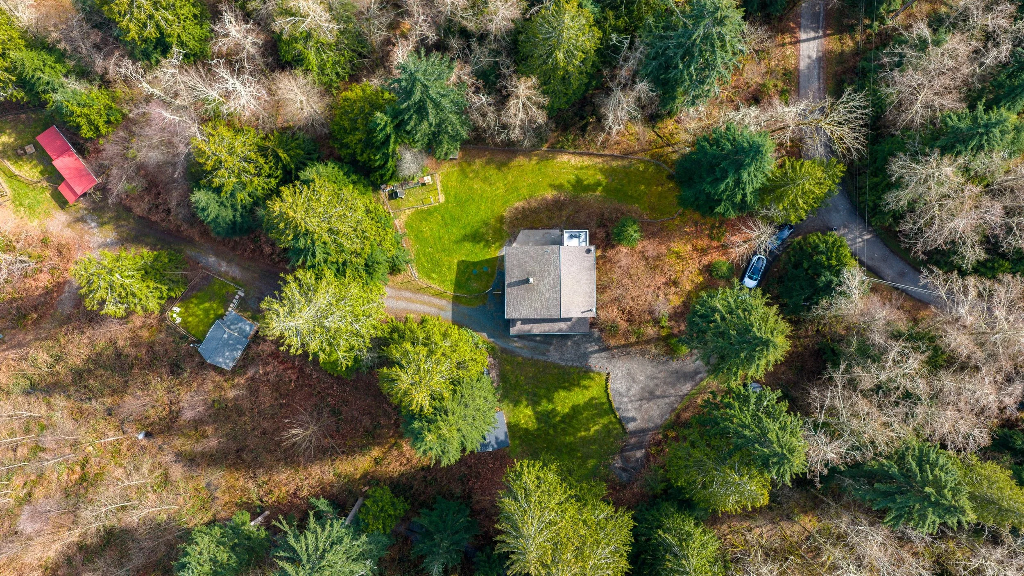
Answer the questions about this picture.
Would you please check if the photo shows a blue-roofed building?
Yes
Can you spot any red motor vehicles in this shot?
No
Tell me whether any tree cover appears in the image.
Yes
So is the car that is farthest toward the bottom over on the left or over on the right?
right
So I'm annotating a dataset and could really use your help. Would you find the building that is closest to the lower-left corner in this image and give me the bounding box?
[198,319,254,371]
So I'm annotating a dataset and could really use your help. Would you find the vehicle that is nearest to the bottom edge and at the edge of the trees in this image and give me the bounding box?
[741,253,767,289]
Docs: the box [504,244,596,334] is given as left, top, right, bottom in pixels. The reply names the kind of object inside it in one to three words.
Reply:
house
